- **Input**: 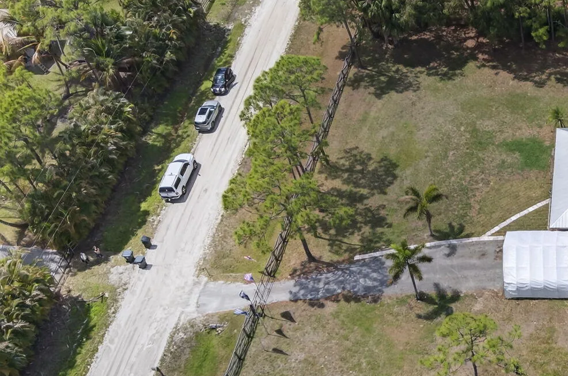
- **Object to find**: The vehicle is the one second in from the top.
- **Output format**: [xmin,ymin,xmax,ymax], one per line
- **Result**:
[195,103,225,134]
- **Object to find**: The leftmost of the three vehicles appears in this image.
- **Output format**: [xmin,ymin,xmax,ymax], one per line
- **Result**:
[159,158,197,204]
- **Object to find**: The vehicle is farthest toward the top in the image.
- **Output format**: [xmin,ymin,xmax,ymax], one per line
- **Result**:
[211,69,237,97]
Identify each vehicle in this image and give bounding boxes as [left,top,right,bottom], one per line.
[159,158,197,204]
[211,69,237,97]
[195,103,225,134]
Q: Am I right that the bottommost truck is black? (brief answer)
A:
No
